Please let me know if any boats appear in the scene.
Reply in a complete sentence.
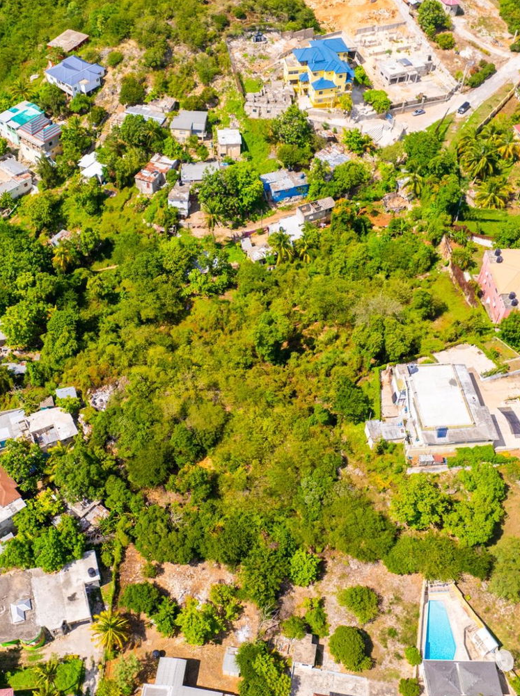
No, this view has no boat in it.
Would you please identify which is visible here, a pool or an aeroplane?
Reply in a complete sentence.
I can see a pool in this picture.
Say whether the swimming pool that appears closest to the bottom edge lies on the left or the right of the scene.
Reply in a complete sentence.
It is on the right.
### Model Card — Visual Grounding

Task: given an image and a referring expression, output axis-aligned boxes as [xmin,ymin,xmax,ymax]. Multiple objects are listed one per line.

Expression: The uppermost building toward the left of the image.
[47,28,89,60]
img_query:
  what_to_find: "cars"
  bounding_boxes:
[458,100,470,112]
[412,108,426,115]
